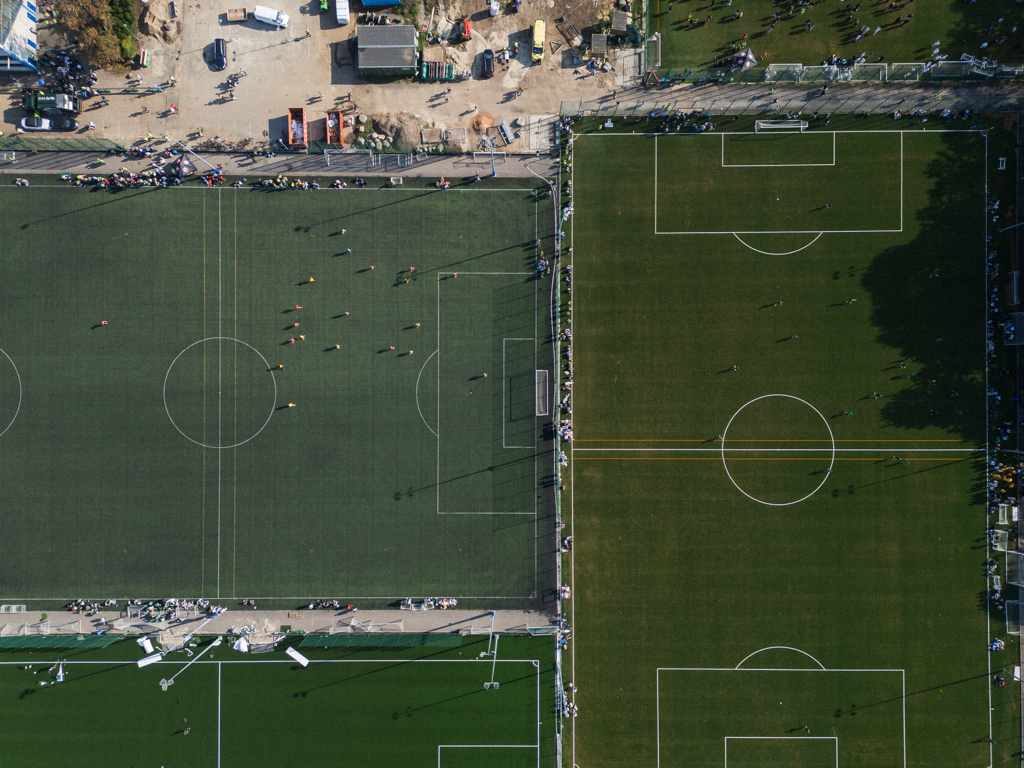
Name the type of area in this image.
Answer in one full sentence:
It's a sports ground.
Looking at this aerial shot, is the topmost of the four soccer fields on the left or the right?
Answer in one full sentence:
The topmost of the four soccer fields sits on the right side.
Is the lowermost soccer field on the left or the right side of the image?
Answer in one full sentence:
It is on the left.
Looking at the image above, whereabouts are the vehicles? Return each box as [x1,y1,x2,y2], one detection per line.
[530,19,546,63]
[48,118,77,132]
[337,0,353,24]
[22,91,82,115]
[319,0,332,16]
[482,49,496,78]
[19,117,48,132]
[459,5,474,40]
[252,4,293,29]
[214,39,229,71]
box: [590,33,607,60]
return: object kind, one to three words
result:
shed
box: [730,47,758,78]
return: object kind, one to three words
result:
gazebo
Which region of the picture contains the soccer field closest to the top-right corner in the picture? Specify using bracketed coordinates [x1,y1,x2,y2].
[646,0,1024,83]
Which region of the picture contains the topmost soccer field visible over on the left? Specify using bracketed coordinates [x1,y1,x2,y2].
[0,174,556,610]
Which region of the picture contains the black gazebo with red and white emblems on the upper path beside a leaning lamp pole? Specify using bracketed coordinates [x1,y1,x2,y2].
[169,151,201,183]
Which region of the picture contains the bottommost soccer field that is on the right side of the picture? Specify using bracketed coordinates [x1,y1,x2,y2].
[539,112,1021,768]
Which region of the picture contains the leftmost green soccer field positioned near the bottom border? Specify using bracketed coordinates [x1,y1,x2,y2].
[0,635,556,768]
